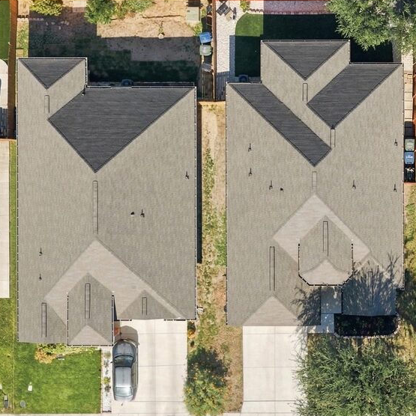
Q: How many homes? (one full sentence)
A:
I count 2 homes.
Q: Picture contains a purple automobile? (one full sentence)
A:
No, this view has no purple automobile in it.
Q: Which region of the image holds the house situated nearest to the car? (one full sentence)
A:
You can find the house situated nearest to the car in the left area of the picture.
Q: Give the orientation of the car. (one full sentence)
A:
The car is oriented up and down.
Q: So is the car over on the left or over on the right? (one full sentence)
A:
It is on the left.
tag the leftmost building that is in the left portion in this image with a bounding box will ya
[17,57,197,347]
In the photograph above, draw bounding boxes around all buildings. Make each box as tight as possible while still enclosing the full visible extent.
[17,57,197,347]
[225,39,404,327]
